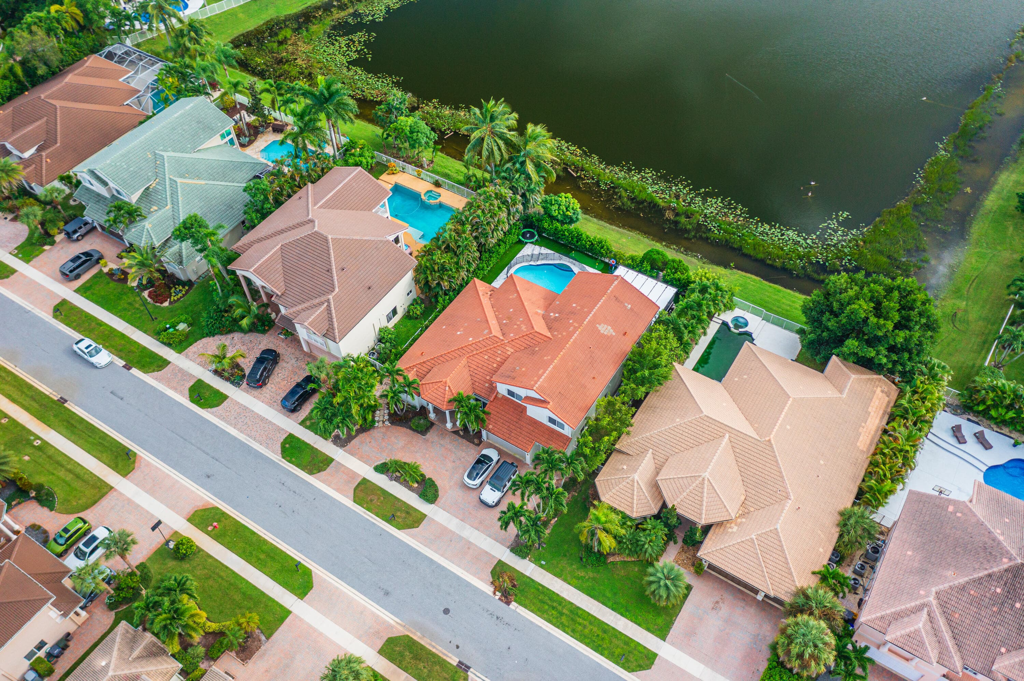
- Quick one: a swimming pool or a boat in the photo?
swimming pool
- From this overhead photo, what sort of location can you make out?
residential area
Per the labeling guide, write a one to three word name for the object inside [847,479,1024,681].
house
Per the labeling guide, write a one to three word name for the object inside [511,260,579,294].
swimming pool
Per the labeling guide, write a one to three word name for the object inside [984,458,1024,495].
swimming pool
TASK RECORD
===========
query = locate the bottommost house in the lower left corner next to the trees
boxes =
[67,619,185,681]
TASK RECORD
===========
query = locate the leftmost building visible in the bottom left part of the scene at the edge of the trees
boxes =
[0,529,92,681]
